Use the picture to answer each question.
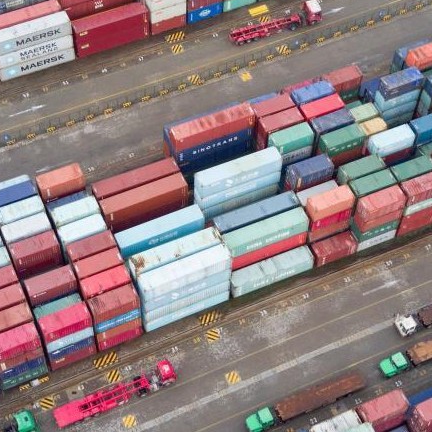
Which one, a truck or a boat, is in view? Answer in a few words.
truck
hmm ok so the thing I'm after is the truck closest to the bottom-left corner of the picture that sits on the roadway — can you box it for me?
[4,410,38,432]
